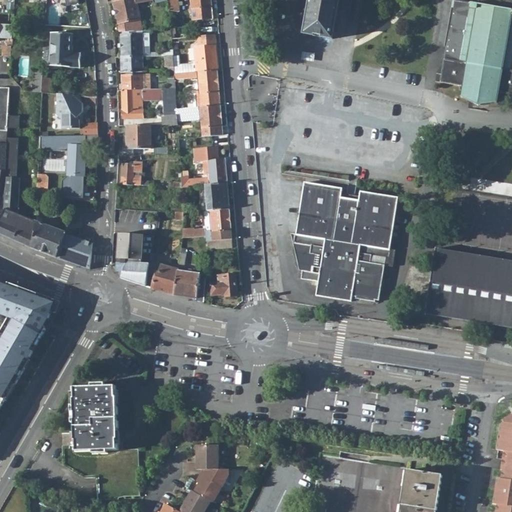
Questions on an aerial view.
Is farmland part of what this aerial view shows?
No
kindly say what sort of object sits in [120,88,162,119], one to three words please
house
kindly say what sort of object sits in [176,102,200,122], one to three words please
building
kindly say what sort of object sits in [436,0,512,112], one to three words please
building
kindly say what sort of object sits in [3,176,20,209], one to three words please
shed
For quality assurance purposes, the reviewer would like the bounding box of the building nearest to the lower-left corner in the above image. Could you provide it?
[62,380,118,454]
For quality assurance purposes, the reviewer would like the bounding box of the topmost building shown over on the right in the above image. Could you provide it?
[300,0,337,40]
